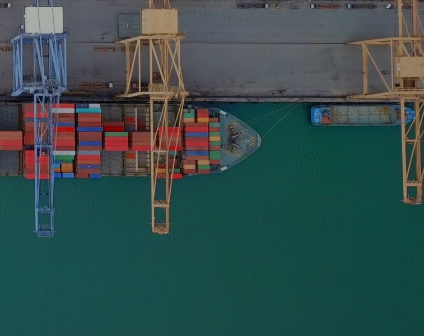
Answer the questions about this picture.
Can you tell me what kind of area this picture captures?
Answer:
port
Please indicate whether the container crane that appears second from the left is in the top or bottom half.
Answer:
top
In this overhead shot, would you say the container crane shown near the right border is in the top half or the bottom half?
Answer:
top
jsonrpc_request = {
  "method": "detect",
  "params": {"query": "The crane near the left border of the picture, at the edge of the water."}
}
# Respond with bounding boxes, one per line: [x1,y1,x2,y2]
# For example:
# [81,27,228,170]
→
[6,0,67,239]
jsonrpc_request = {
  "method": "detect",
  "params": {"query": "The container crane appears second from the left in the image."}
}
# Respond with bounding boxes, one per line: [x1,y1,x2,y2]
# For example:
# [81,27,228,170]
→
[113,0,187,234]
